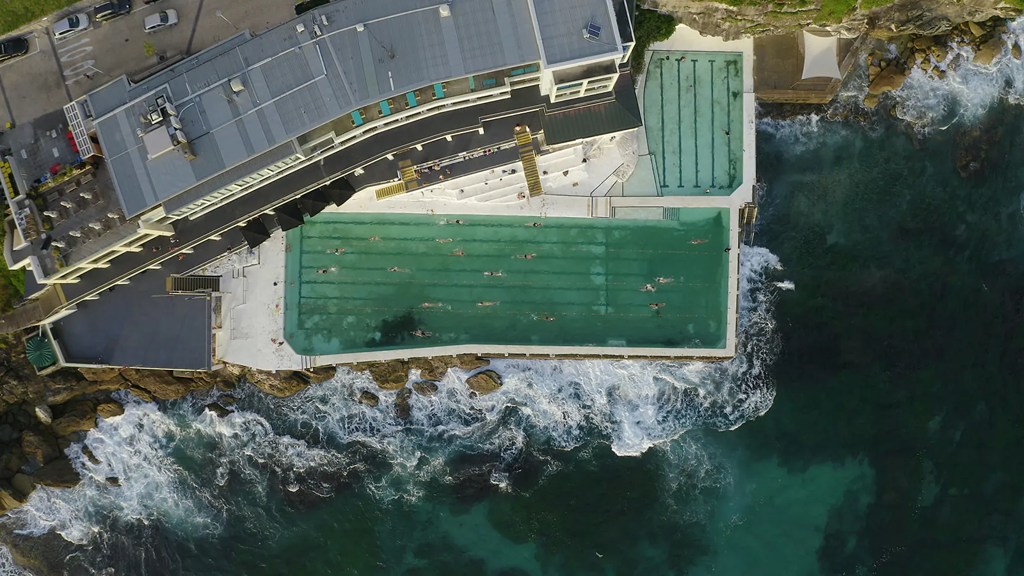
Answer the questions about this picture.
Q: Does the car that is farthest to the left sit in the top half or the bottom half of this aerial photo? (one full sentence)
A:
The car that is farthest to the left is in the top half of the image.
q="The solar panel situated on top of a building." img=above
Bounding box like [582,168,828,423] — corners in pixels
[581,21,601,38]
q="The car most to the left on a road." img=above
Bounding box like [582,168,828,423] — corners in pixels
[0,37,30,61]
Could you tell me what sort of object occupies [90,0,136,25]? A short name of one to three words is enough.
car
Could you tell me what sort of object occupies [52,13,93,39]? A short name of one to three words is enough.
car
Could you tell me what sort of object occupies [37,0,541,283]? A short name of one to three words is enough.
building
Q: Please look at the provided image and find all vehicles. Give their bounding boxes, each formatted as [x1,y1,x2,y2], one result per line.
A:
[90,0,136,25]
[141,0,177,10]
[52,13,93,39]
[141,9,182,33]
[0,37,30,61]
